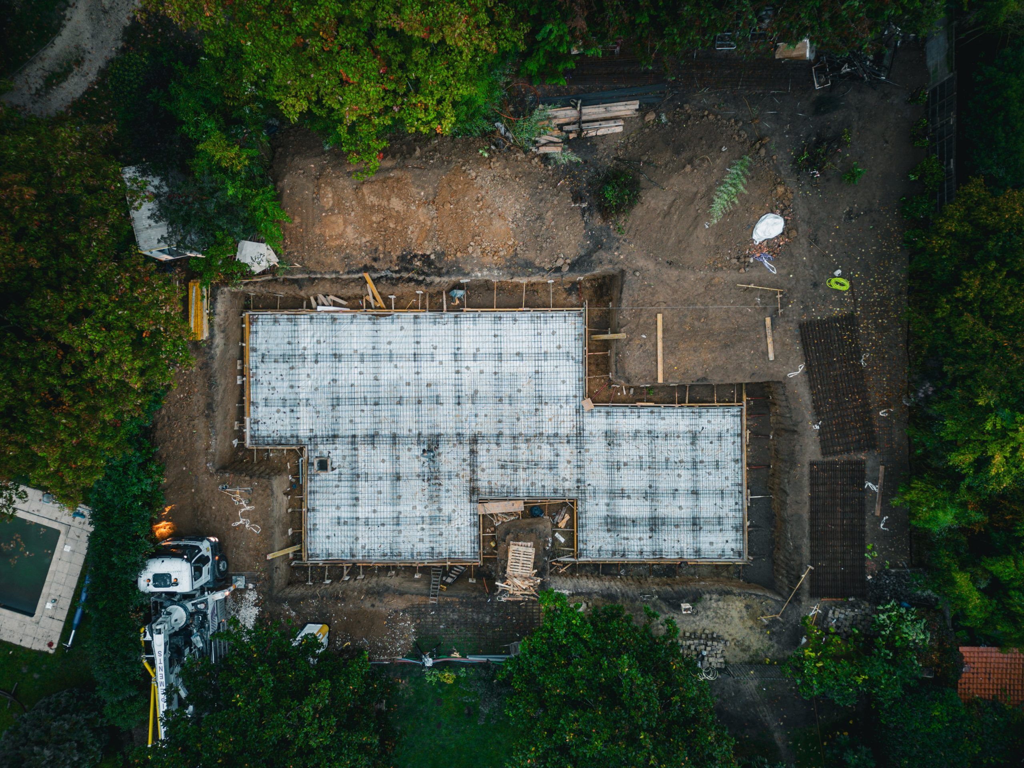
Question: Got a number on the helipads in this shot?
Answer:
0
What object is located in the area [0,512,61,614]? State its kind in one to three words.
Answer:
swimming pool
